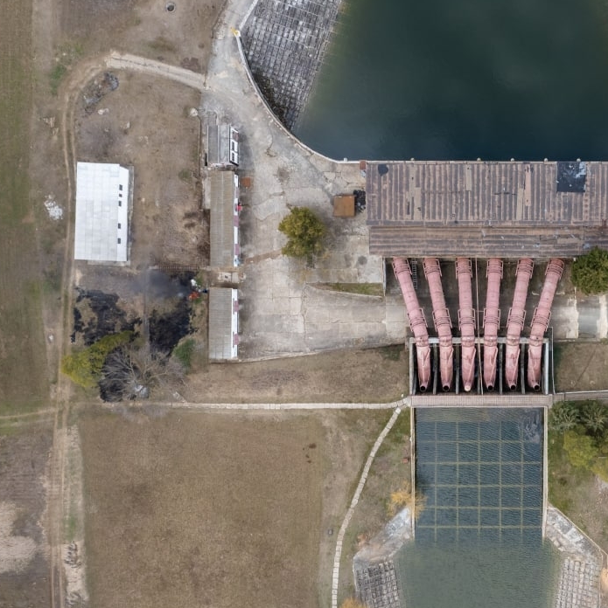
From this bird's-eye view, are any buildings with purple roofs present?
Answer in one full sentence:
No, the picture doesn't show any building with a purple roof.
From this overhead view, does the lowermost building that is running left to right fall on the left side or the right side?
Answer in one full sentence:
The lowermost building that is running left to right sits on the right side.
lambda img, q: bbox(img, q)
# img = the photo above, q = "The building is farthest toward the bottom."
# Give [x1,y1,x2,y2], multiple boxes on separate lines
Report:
[209,288,239,360]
